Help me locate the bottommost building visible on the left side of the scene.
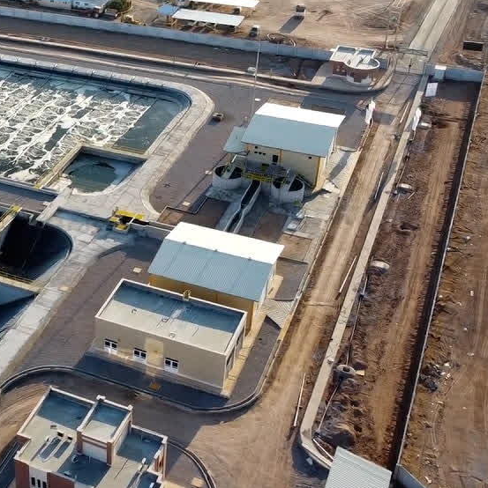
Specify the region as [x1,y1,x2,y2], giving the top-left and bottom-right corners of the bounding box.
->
[14,384,172,488]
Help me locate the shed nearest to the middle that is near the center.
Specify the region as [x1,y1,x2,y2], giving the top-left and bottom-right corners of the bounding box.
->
[147,224,281,336]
